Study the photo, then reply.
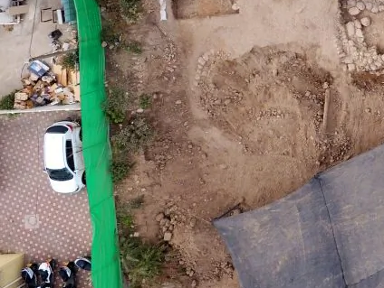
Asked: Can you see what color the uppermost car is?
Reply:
white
